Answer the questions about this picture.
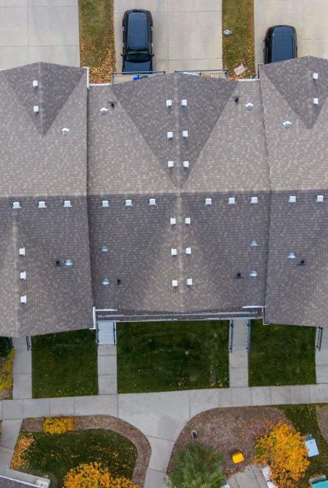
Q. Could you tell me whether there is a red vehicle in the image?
No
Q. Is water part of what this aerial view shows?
No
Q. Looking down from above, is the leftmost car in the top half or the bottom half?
top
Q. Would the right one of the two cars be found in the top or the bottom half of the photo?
top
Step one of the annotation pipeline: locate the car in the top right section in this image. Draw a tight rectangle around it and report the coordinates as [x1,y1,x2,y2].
[263,17,300,64]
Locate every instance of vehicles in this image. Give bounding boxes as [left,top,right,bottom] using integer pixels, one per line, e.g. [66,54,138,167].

[118,1,158,77]
[263,17,300,64]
